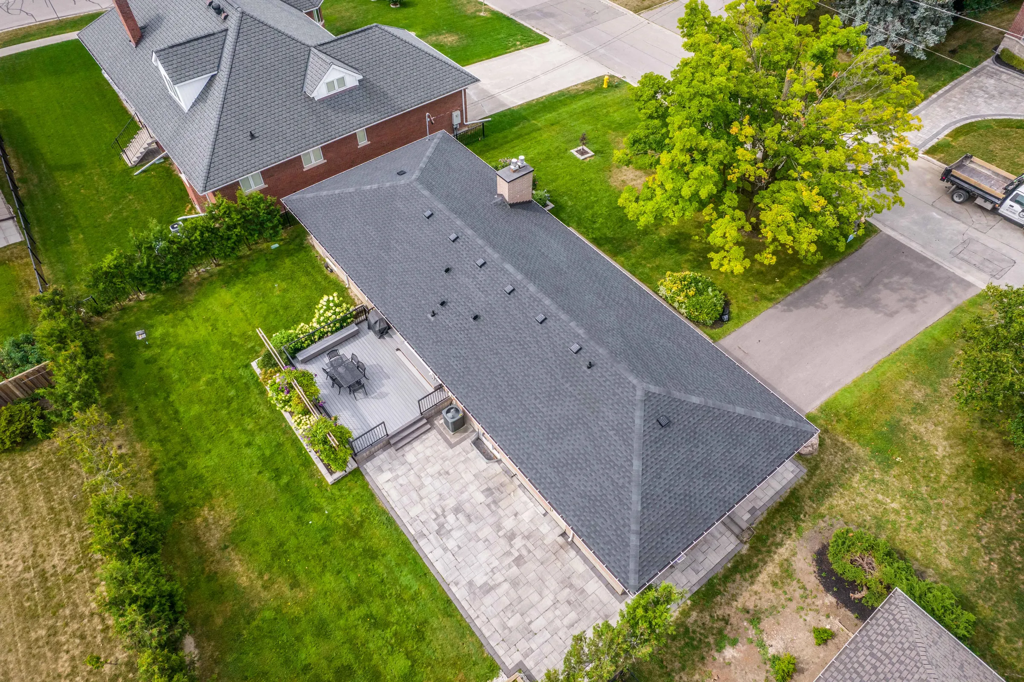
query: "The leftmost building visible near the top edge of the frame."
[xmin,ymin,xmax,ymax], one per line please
[75,0,493,218]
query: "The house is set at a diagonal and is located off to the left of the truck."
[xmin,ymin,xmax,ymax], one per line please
[281,113,820,598]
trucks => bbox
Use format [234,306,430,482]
[937,152,1024,235]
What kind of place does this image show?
residential area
